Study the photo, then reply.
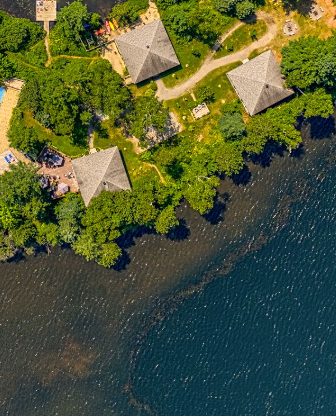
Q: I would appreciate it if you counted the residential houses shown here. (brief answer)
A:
3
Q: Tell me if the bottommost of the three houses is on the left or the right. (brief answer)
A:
left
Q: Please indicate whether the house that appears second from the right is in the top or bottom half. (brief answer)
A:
top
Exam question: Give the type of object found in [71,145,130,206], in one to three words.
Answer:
house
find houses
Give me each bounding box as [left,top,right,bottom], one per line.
[71,145,130,206]
[114,19,181,84]
[227,50,291,116]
